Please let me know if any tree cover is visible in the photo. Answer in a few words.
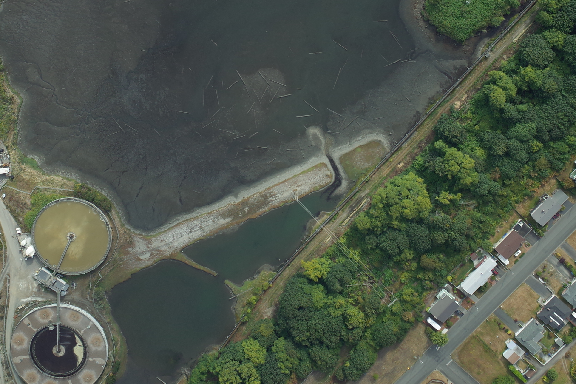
Yes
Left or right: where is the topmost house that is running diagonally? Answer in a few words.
right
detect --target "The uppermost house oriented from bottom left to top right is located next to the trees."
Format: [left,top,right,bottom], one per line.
[531,189,568,226]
